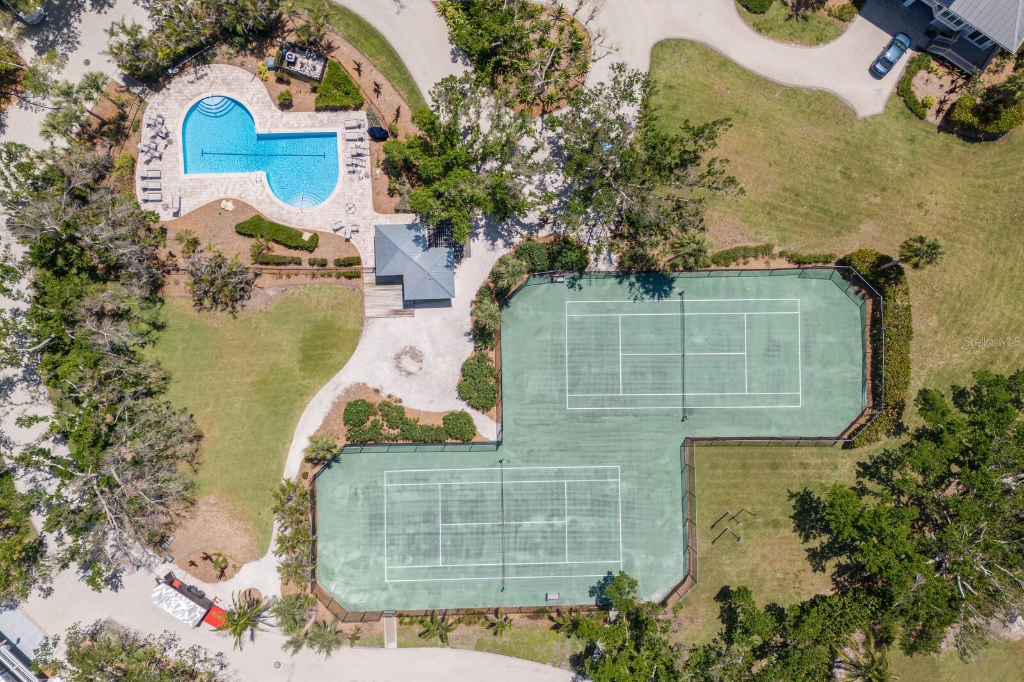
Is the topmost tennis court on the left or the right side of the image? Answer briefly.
right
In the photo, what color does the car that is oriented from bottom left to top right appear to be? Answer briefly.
blue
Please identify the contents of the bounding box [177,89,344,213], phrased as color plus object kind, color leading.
blue swimming pool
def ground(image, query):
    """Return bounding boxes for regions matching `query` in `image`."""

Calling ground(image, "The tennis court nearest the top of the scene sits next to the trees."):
[501,268,867,441]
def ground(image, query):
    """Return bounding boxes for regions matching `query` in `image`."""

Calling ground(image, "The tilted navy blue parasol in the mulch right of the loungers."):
[368,126,389,143]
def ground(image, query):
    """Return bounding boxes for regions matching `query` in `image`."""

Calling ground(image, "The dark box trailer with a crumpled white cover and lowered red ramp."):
[148,571,231,632]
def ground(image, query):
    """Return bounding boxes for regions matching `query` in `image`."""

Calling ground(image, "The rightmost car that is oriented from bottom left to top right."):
[873,31,909,76]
